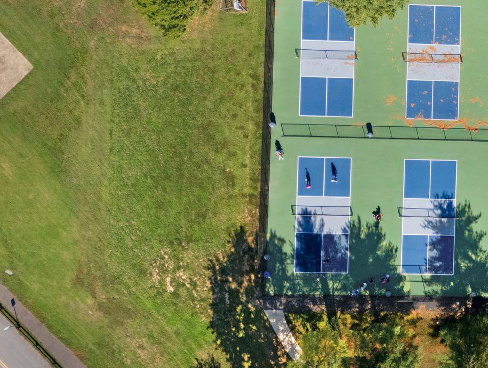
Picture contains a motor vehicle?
No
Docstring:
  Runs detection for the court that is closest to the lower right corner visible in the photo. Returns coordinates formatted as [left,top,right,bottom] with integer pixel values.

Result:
[401,159,457,275]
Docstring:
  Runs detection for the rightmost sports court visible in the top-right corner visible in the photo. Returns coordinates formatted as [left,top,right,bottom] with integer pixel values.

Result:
[406,5,461,120]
